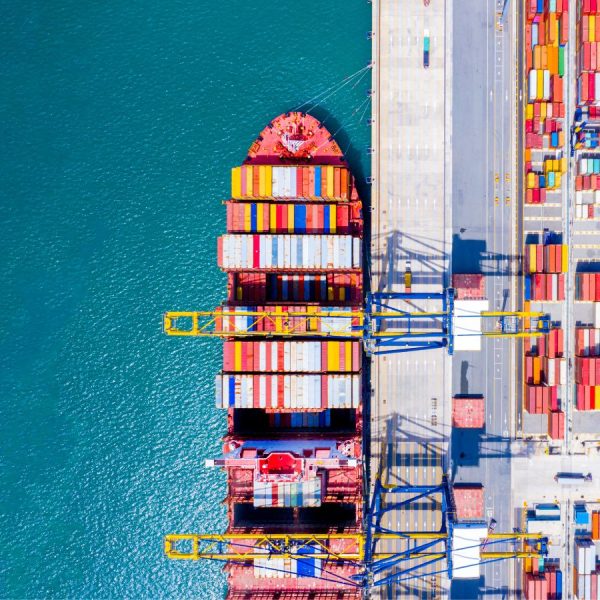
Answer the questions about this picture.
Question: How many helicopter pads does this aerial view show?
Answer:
0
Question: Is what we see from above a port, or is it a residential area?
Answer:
port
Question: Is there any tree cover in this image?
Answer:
No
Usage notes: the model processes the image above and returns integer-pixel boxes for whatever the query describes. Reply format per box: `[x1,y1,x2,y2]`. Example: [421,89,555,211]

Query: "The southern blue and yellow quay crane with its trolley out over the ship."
[164,474,550,591]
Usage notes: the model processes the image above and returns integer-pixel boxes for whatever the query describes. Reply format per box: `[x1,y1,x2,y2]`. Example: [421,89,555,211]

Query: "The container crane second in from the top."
[165,287,550,362]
